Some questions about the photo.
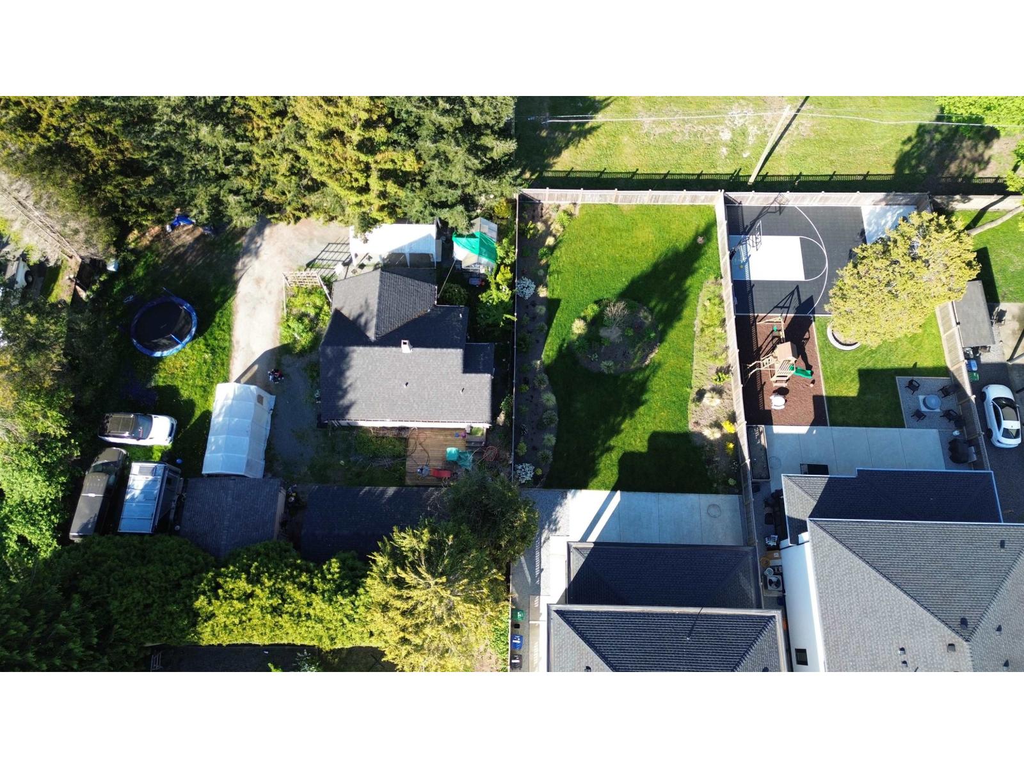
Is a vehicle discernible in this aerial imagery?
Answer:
Yes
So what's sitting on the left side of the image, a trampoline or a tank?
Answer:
trampoline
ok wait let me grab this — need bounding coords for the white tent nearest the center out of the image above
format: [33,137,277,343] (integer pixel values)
[347,220,438,267]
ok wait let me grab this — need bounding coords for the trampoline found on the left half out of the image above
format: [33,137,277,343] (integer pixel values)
[130,283,201,359]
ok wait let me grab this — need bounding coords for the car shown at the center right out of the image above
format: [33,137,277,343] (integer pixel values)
[982,385,1024,449]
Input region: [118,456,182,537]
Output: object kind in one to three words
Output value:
camper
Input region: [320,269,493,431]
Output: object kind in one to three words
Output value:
house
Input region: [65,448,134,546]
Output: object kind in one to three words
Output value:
truck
